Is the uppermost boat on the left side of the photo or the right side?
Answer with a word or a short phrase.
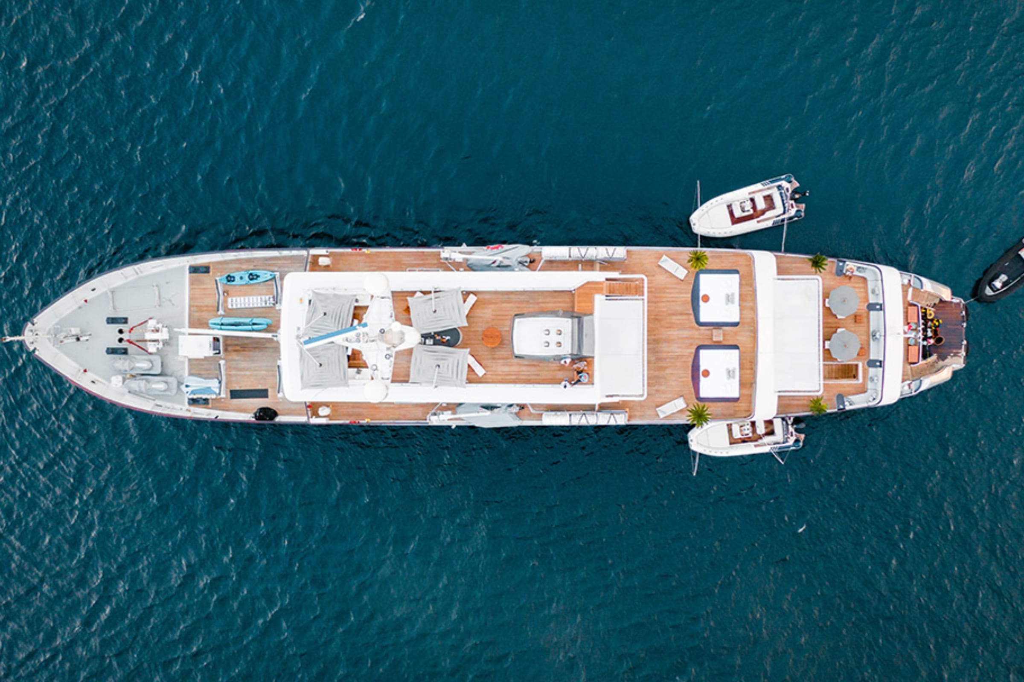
right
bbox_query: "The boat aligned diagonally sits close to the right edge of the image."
[969,236,1024,305]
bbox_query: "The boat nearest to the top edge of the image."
[691,174,809,236]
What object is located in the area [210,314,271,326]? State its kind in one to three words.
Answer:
boat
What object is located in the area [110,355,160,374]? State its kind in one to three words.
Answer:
boat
